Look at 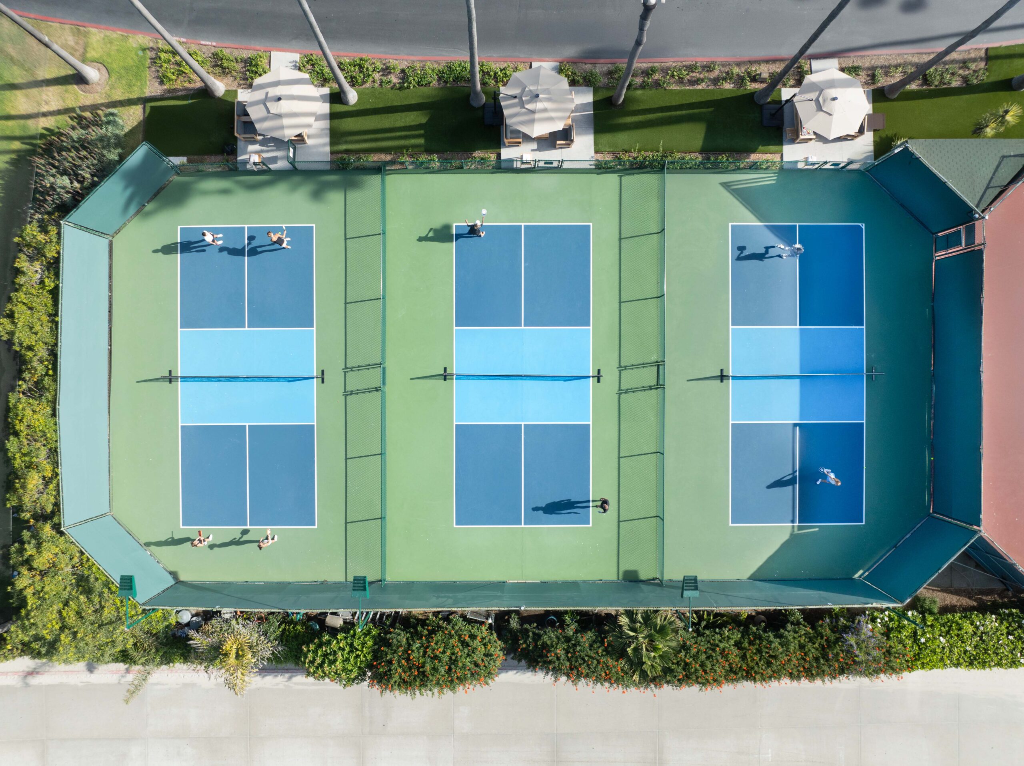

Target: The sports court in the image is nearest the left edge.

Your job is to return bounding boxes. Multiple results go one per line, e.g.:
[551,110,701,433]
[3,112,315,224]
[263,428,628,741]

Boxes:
[111,169,386,582]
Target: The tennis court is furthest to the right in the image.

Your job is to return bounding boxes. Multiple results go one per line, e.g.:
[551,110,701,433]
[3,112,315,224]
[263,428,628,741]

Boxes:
[932,172,1024,579]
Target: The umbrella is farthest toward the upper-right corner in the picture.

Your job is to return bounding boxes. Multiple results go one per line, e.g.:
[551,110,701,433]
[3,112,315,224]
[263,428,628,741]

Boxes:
[765,64,871,143]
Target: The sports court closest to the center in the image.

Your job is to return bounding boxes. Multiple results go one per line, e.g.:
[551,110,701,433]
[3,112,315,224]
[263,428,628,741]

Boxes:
[386,169,660,581]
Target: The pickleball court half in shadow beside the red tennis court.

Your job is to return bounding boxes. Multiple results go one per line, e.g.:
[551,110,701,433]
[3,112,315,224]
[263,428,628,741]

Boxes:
[658,169,933,581]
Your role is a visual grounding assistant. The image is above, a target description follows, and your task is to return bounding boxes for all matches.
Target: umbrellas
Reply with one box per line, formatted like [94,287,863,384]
[238,61,321,141]
[765,64,871,143]
[485,61,576,140]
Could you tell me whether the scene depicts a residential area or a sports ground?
sports ground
